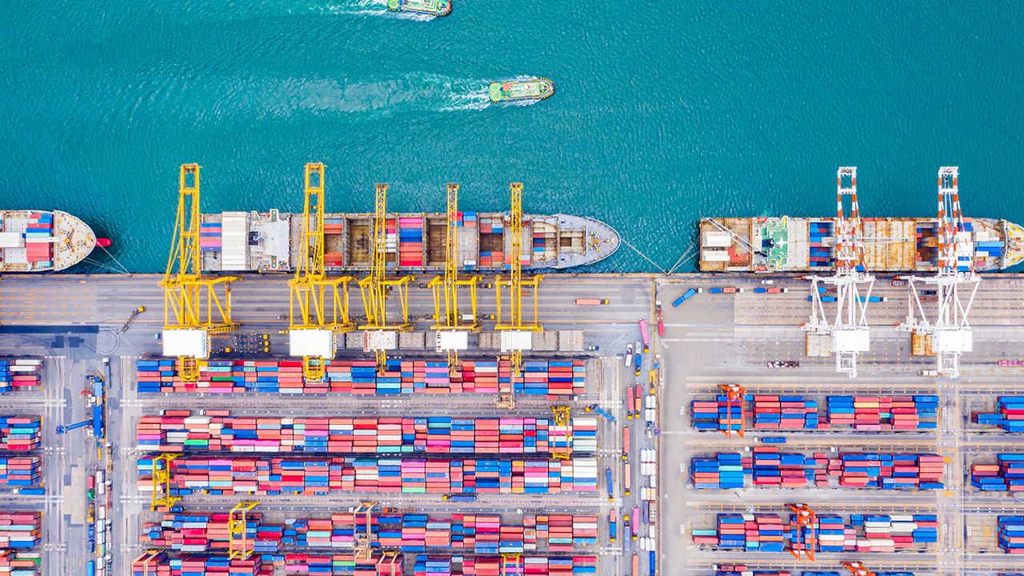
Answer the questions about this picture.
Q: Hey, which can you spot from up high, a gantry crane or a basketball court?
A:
gantry crane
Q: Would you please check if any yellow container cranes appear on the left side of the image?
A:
Yes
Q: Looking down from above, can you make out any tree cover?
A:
No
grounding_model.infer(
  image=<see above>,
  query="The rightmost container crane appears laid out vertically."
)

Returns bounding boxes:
[881,163,980,382]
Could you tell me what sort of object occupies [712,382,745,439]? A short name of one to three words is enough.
container crane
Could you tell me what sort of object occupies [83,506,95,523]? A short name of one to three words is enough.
vehicle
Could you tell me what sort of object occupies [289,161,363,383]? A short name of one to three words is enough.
container crane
